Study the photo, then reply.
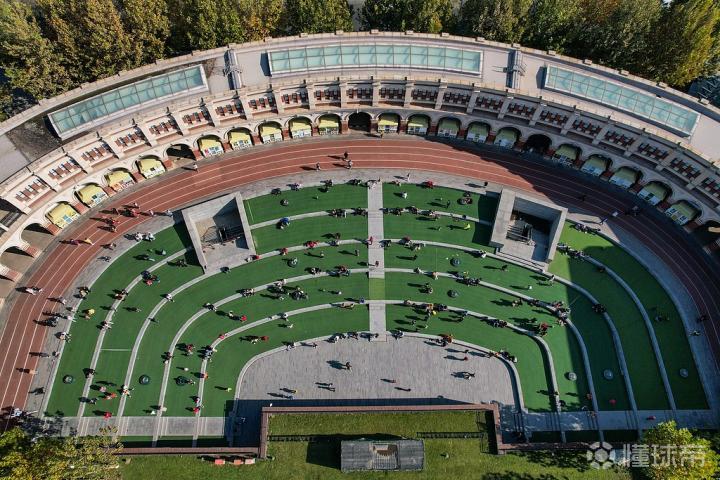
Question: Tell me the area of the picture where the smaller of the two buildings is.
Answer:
bottom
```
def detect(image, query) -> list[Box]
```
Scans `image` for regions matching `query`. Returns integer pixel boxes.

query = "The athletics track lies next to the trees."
[0,137,720,460]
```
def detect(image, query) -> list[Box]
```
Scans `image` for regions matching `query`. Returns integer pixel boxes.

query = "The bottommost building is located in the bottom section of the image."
[340,440,425,472]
